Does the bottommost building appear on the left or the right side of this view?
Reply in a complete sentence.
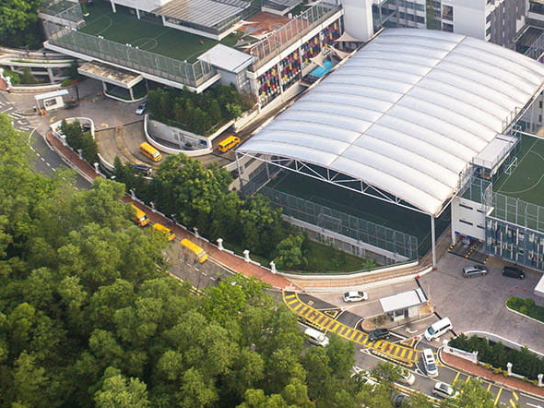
You can find the bottommost building on the right side of the picture.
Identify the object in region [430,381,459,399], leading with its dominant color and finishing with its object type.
white car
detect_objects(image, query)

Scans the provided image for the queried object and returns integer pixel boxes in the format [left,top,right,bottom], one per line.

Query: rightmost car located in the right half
[500,262,527,280]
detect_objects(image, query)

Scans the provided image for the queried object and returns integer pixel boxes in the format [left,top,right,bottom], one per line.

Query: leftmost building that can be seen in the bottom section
[369,289,431,325]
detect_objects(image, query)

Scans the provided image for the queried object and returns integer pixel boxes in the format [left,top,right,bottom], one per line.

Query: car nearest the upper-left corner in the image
[135,101,148,114]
